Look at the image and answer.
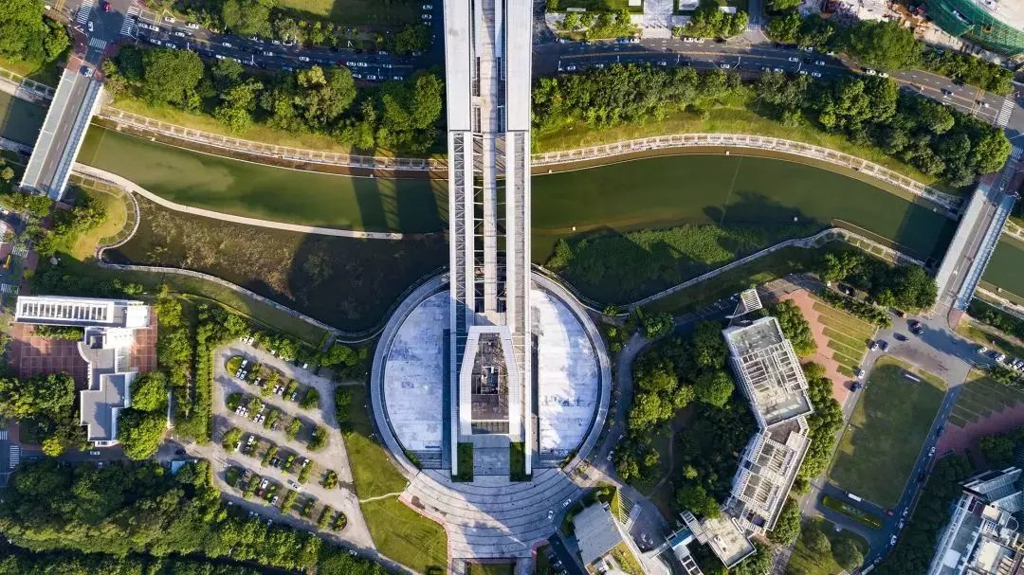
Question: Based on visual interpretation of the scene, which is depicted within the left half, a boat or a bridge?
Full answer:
The feature located within the left half is a bridge.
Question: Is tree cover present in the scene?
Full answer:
Yes, tree cover can be seen from above here.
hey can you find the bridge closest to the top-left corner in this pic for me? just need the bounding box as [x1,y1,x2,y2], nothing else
[15,66,103,198]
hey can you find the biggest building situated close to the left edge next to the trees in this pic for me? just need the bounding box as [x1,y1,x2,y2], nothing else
[15,296,163,446]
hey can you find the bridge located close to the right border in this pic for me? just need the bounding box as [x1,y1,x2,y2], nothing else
[932,180,1019,305]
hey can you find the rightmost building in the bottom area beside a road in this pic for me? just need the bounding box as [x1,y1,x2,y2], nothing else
[901,468,1024,575]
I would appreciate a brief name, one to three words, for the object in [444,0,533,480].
building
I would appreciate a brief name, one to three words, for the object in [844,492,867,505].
vehicle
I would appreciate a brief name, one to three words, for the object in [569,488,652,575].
building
